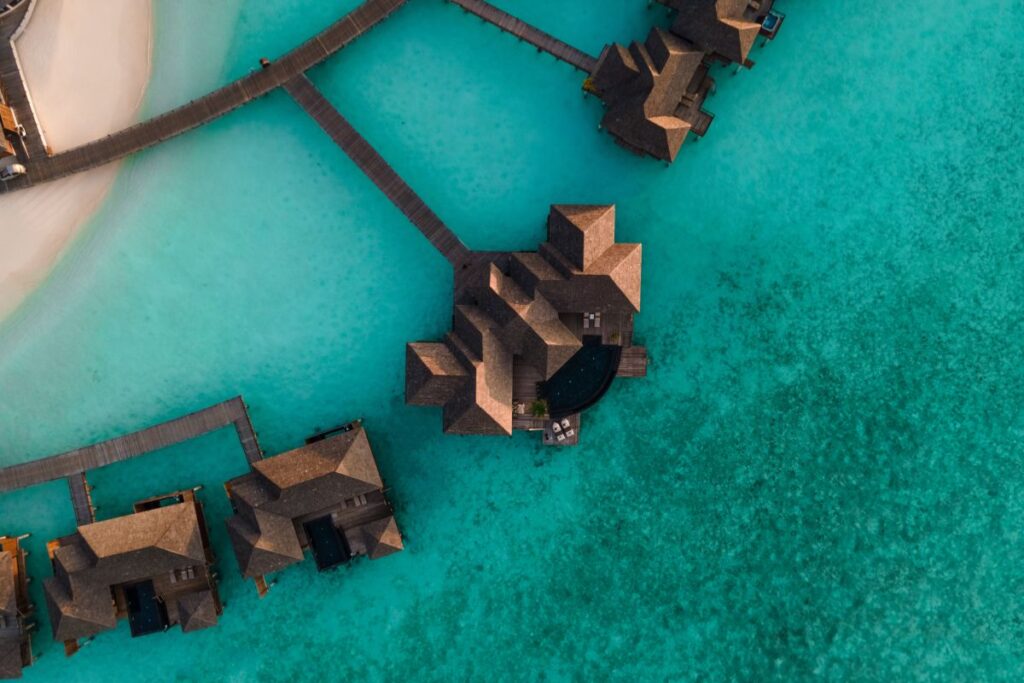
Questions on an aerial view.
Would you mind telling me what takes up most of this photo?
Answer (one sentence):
The bulk of the photo consists of water.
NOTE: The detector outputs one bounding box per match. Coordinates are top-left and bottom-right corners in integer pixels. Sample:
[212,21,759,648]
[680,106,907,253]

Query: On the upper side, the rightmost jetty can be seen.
[445,0,598,73]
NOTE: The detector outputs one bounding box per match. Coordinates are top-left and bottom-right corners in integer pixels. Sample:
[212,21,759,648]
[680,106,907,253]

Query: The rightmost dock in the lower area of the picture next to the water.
[553,413,579,444]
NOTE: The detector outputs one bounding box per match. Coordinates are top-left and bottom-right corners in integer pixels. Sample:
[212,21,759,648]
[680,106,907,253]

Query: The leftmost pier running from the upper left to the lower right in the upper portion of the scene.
[282,69,471,265]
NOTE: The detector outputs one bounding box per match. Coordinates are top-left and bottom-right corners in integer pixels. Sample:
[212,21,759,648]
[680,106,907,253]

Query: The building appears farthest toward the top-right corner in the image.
[406,205,647,444]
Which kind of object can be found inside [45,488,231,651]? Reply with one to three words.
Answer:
house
